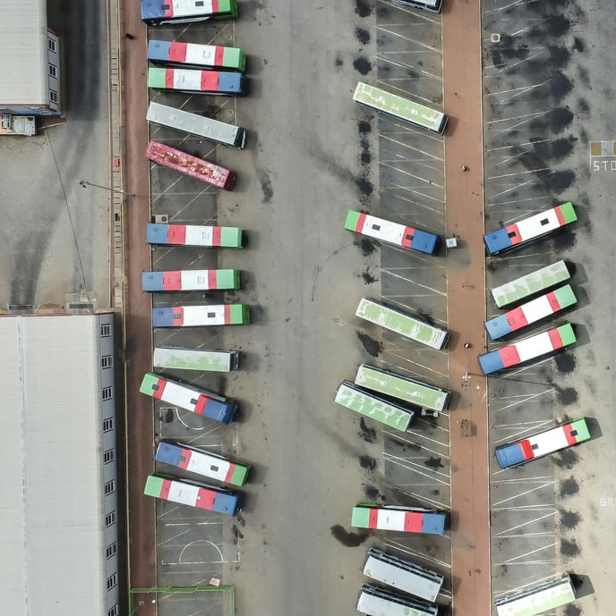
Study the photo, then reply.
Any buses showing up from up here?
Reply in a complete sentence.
Yes, the frame does contain a bus.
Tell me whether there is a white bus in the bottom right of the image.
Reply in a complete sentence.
Yes, a white bus can be seen in the bottom right of the image.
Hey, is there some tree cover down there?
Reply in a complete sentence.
No, there is no tree cover in the image.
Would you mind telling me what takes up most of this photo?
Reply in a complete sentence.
Most of the picture is covered by paved ground.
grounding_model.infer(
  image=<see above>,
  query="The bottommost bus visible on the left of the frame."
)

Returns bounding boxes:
[145,470,246,516]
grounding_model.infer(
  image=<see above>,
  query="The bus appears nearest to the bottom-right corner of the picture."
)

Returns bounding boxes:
[494,573,575,616]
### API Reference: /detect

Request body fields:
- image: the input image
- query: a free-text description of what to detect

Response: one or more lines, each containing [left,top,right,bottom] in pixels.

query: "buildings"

[0,0,66,118]
[0,316,127,616]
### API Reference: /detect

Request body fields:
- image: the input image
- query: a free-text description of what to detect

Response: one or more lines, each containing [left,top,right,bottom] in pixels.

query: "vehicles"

[382,0,442,15]
[141,0,239,27]
[476,322,577,377]
[355,362,449,409]
[144,269,245,294]
[154,346,239,374]
[156,437,257,485]
[145,470,246,516]
[344,210,441,257]
[352,502,448,534]
[490,260,571,310]
[154,304,252,328]
[147,221,250,248]
[494,416,591,470]
[356,585,438,616]
[353,81,448,135]
[354,295,449,348]
[148,39,249,73]
[140,370,242,425]
[363,551,442,600]
[483,284,578,342]
[146,102,249,150]
[494,573,575,616]
[334,381,416,430]
[148,68,250,98]
[145,140,238,192]
[482,201,578,257]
